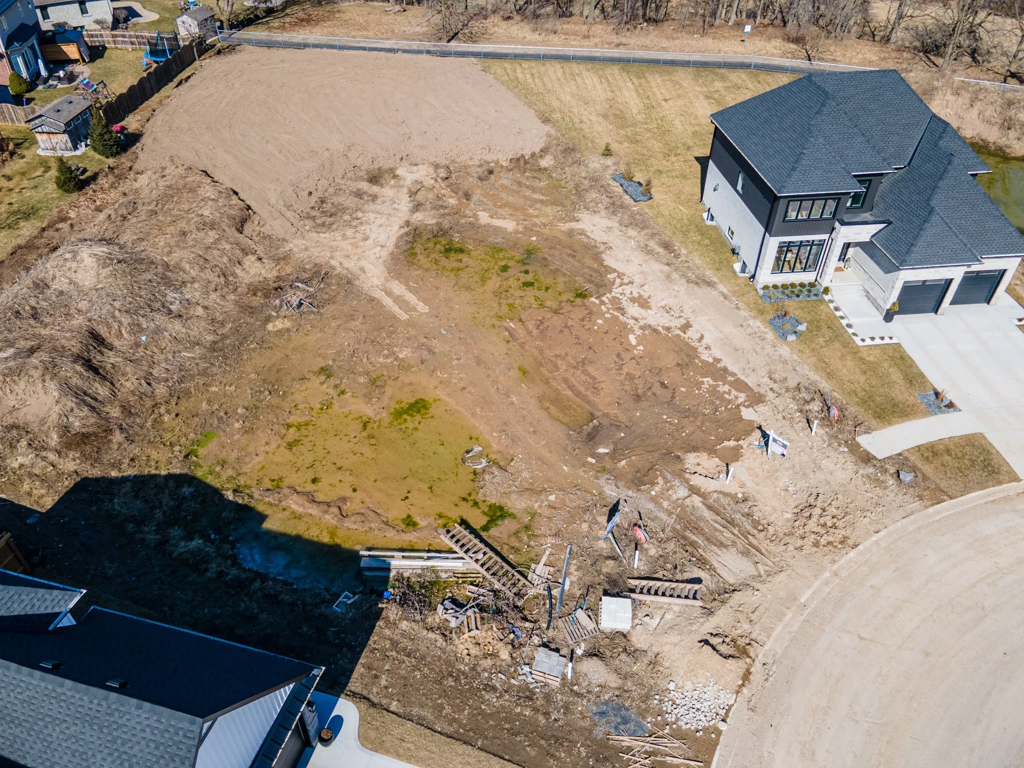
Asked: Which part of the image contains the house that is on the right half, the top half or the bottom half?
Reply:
top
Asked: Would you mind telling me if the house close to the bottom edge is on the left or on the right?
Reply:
left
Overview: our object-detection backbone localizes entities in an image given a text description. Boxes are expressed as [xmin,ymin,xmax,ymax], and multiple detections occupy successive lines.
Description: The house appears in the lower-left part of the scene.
[0,565,330,768]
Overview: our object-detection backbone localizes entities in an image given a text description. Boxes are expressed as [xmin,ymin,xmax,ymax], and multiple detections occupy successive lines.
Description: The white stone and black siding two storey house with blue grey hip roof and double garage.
[698,70,1024,313]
